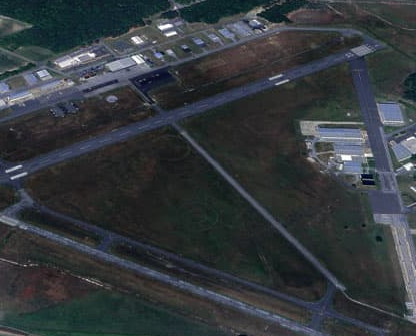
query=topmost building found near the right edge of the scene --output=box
[379,102,407,123]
